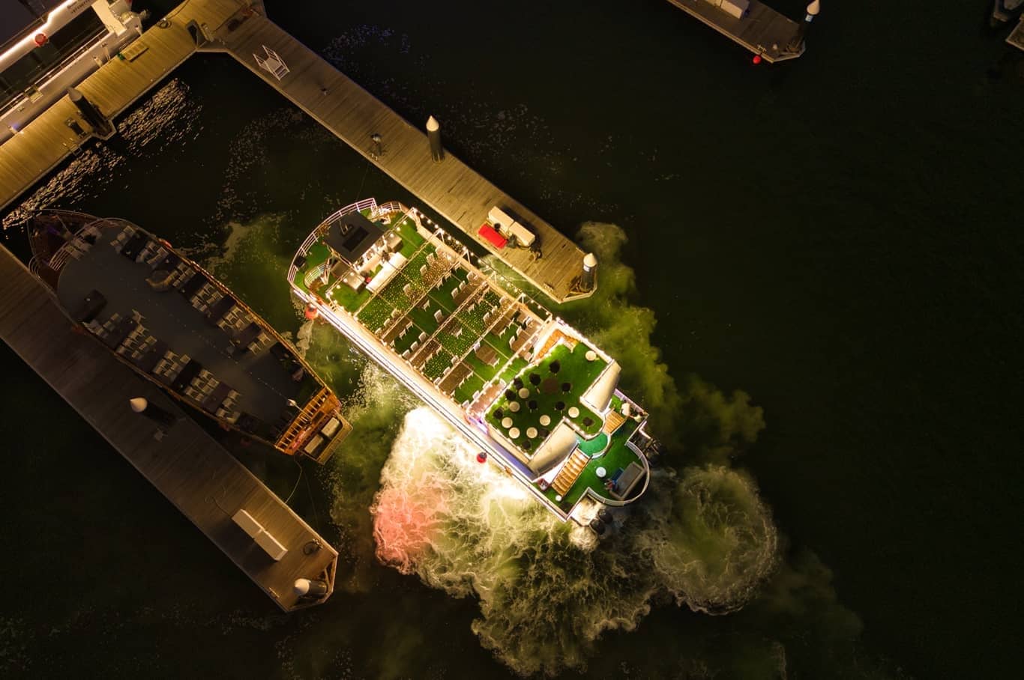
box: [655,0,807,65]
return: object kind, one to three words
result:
pier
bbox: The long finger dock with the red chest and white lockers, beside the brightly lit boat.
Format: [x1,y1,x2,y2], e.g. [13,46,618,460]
[226,16,599,305]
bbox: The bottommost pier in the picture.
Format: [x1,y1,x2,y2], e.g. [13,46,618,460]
[0,240,341,614]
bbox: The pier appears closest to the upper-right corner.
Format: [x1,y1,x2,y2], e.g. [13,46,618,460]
[1002,15,1024,57]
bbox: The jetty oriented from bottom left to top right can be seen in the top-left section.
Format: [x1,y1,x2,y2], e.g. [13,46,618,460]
[0,0,269,218]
